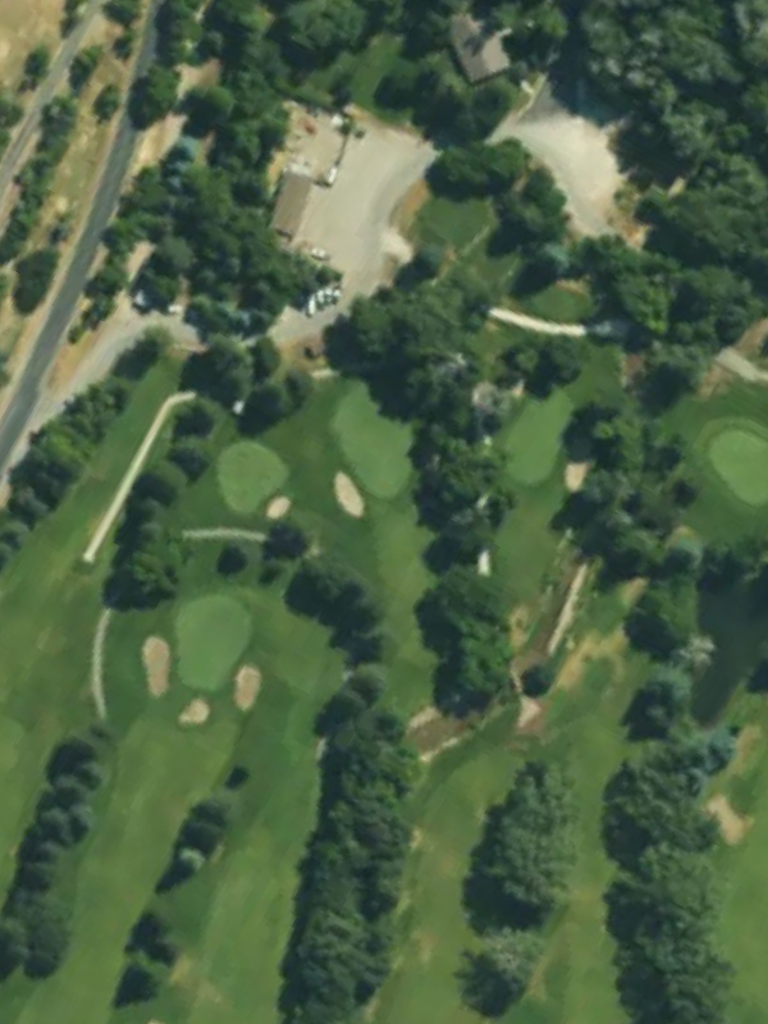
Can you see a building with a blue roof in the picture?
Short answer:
No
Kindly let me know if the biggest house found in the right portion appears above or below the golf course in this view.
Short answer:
above it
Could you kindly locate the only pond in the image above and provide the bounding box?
[691,561,768,727]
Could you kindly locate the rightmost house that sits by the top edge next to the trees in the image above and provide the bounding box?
[449,8,507,82]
